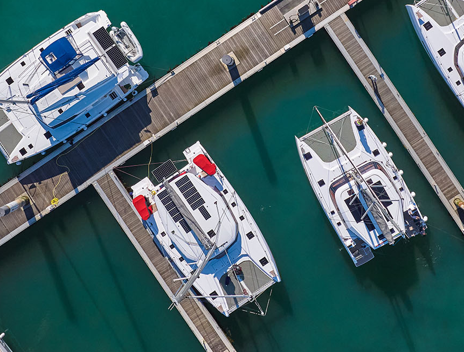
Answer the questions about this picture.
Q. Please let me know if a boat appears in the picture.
Yes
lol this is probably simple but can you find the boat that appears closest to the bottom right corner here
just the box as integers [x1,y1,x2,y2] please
[294,105,425,266]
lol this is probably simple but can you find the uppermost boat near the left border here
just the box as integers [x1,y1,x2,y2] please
[0,11,152,163]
